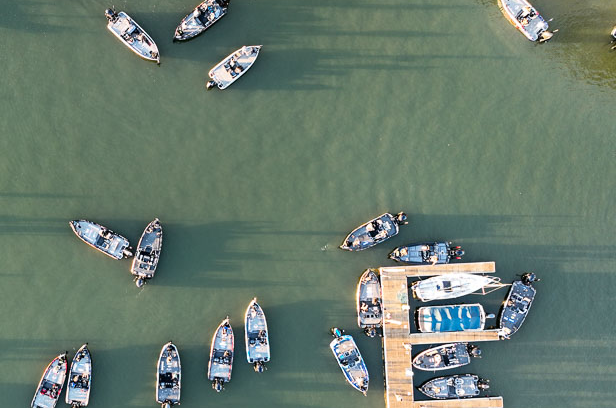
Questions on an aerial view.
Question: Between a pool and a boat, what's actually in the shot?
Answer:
boat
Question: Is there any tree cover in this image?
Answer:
No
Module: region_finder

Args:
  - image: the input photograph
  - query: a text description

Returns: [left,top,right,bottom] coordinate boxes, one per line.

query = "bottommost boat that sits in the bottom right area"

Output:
[416,372,488,399]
